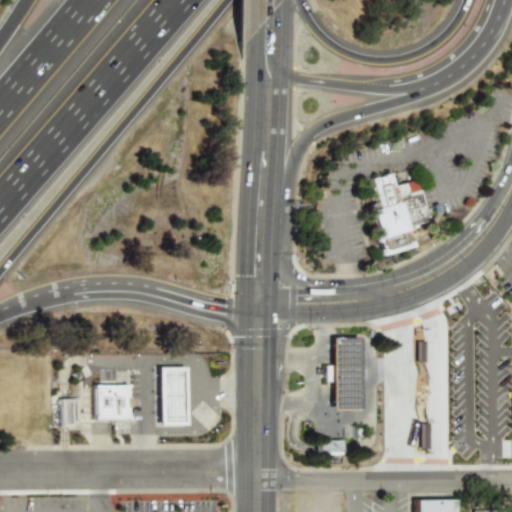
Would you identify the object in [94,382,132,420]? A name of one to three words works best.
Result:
building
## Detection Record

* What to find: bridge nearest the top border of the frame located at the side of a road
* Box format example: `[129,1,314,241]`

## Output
[243,0,296,66]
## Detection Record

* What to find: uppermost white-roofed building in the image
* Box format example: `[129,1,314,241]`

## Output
[374,170,431,257]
